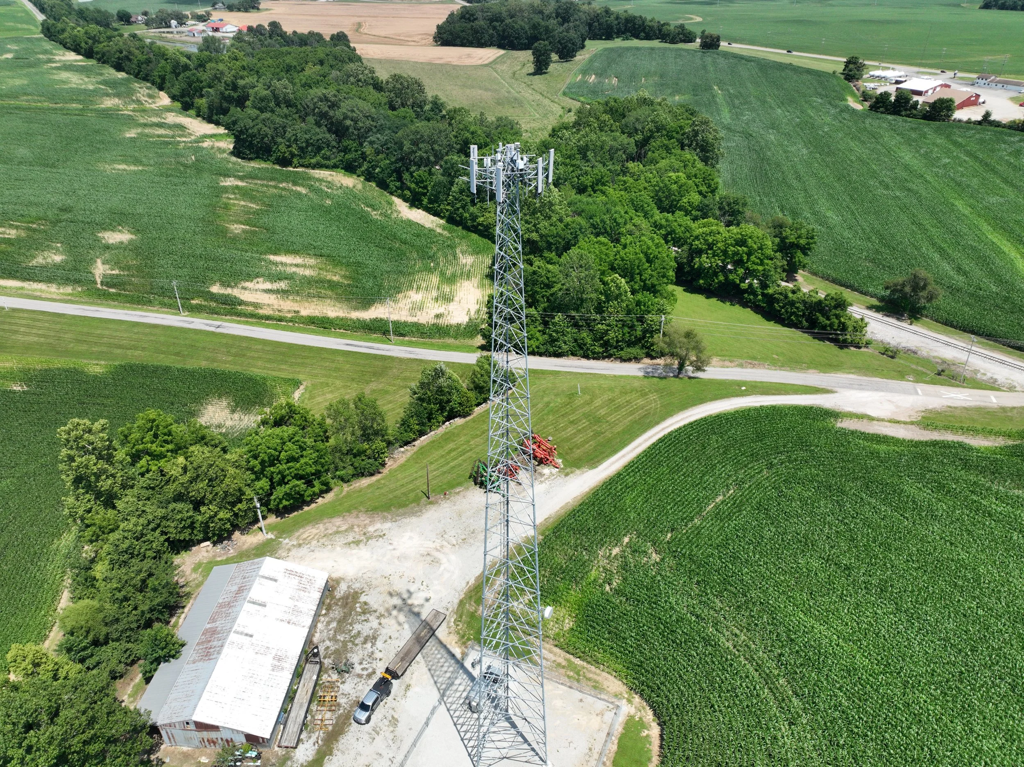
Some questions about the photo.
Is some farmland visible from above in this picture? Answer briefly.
Yes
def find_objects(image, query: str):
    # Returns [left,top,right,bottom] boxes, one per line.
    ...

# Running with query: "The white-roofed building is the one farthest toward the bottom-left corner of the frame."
[132,555,330,749]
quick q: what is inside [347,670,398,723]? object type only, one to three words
truck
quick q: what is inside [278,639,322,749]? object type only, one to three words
trailer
